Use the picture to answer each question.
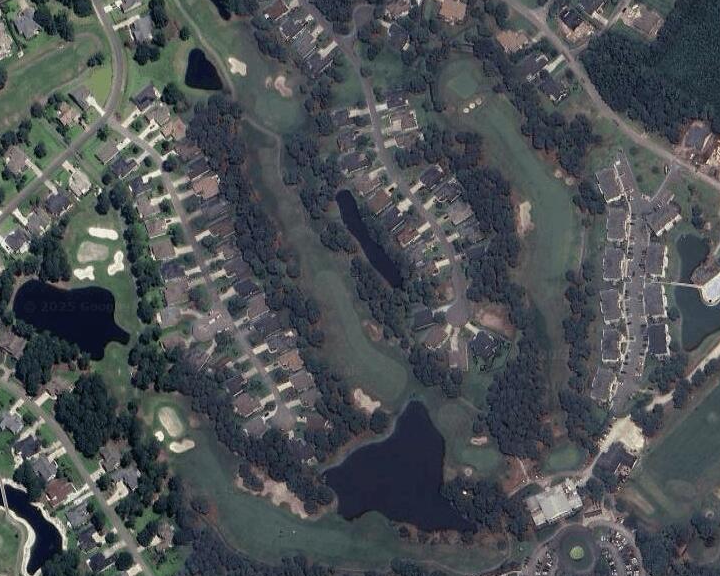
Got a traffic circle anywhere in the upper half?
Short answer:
No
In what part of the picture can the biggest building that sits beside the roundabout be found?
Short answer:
bottom right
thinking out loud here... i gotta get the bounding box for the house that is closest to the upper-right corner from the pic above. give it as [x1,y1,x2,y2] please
[625,7,658,39]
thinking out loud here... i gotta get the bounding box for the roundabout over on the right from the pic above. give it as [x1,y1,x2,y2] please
[554,528,601,575]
